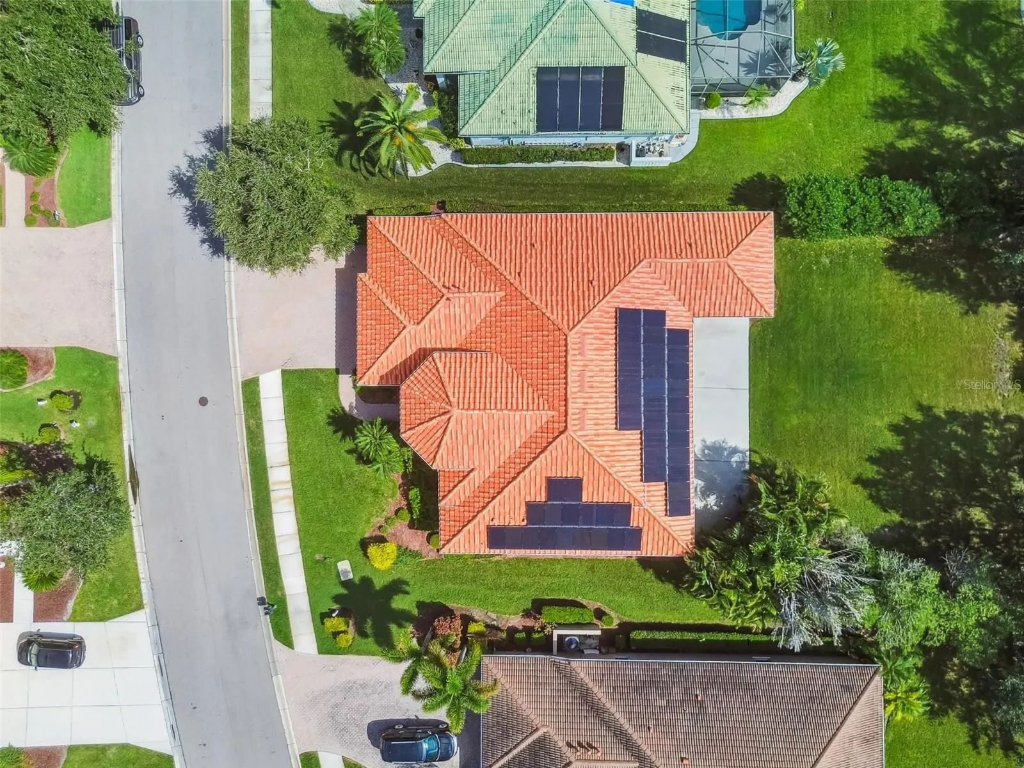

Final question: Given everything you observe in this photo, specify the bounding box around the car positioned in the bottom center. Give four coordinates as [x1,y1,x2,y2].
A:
[378,723,460,768]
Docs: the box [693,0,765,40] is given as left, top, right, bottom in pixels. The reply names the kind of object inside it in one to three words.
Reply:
swimming pool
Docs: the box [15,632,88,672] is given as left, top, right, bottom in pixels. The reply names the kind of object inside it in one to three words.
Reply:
car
